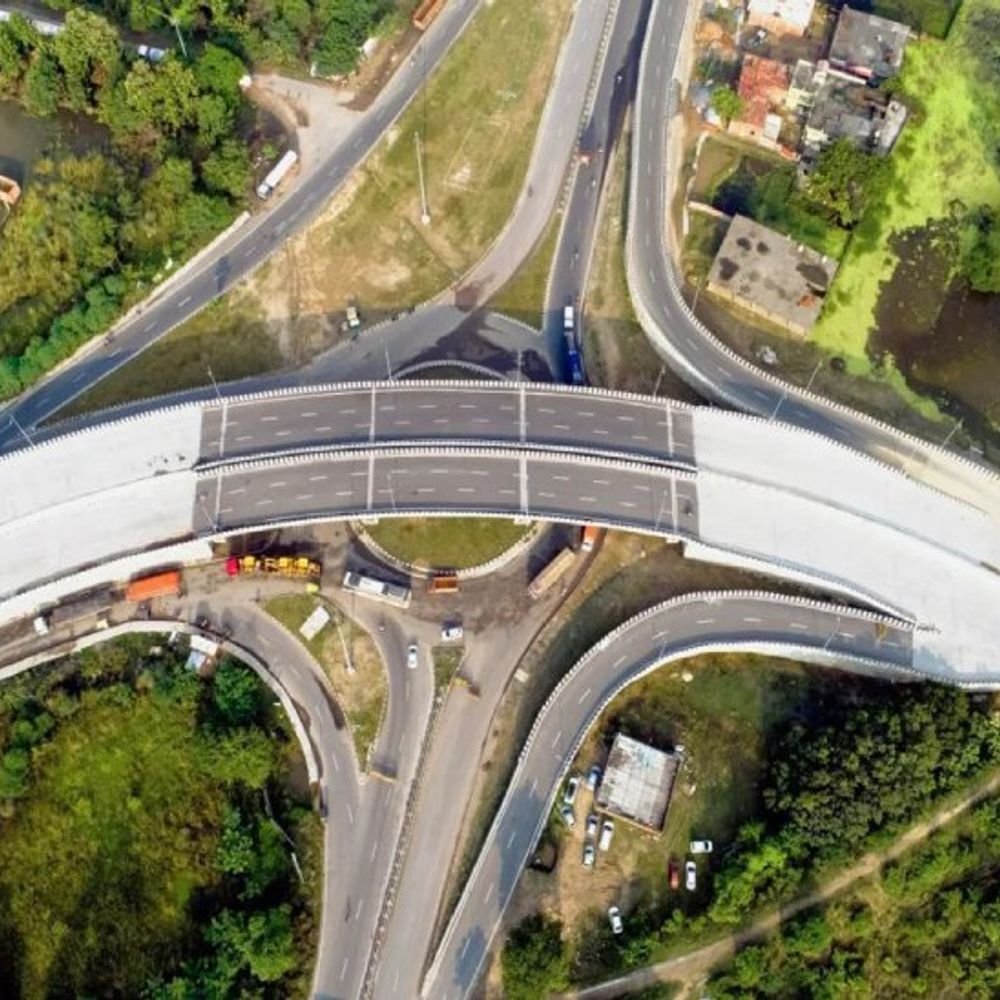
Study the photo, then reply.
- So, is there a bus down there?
Yes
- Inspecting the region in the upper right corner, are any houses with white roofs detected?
Yes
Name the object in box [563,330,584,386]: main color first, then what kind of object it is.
blue vehicle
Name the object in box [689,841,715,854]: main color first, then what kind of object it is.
white vehicle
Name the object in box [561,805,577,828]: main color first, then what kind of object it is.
white car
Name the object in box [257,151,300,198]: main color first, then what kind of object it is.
white truck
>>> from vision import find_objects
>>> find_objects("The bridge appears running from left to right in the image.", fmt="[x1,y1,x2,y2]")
[0,380,1000,687]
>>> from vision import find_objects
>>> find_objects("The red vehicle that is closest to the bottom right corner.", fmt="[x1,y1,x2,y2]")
[667,859,681,889]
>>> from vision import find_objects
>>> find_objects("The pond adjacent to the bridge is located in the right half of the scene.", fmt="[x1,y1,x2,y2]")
[865,210,1000,476]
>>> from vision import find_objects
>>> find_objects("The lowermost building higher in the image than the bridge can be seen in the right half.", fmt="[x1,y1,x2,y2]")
[708,213,838,337]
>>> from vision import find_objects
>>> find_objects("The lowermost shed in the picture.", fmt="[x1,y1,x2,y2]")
[597,733,680,833]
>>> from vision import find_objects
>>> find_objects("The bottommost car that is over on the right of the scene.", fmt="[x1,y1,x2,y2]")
[606,906,622,936]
